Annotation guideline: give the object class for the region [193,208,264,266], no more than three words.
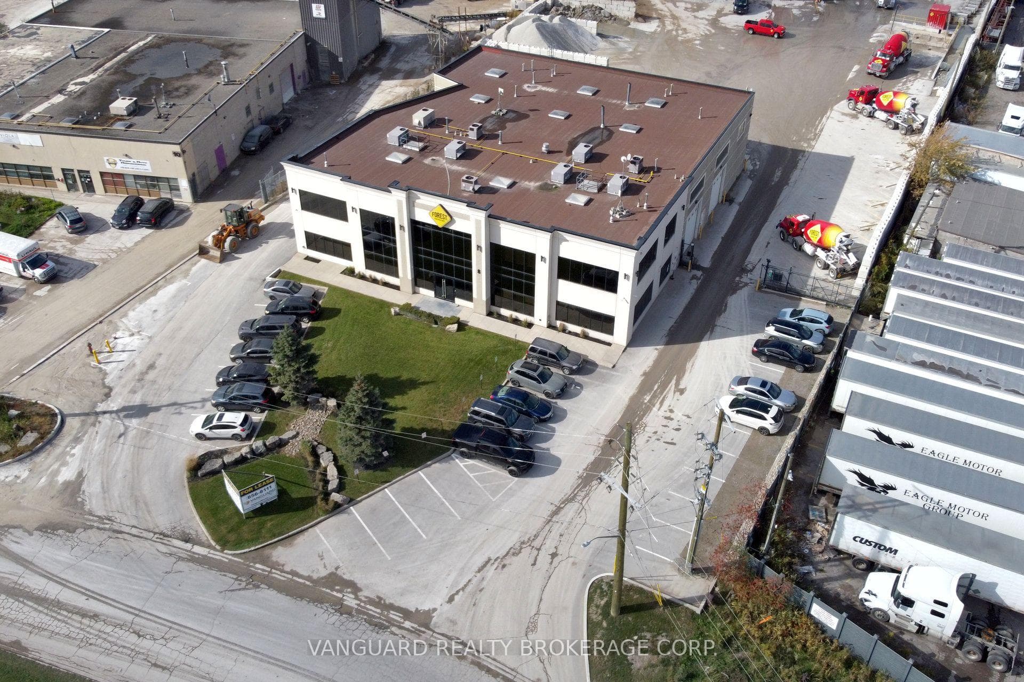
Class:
work vehicle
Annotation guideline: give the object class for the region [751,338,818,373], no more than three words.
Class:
car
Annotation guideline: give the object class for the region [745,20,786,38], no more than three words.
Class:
vehicle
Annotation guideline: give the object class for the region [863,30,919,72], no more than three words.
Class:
truck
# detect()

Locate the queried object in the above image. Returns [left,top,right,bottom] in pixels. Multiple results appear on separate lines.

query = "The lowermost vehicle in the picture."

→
[861,570,1024,676]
